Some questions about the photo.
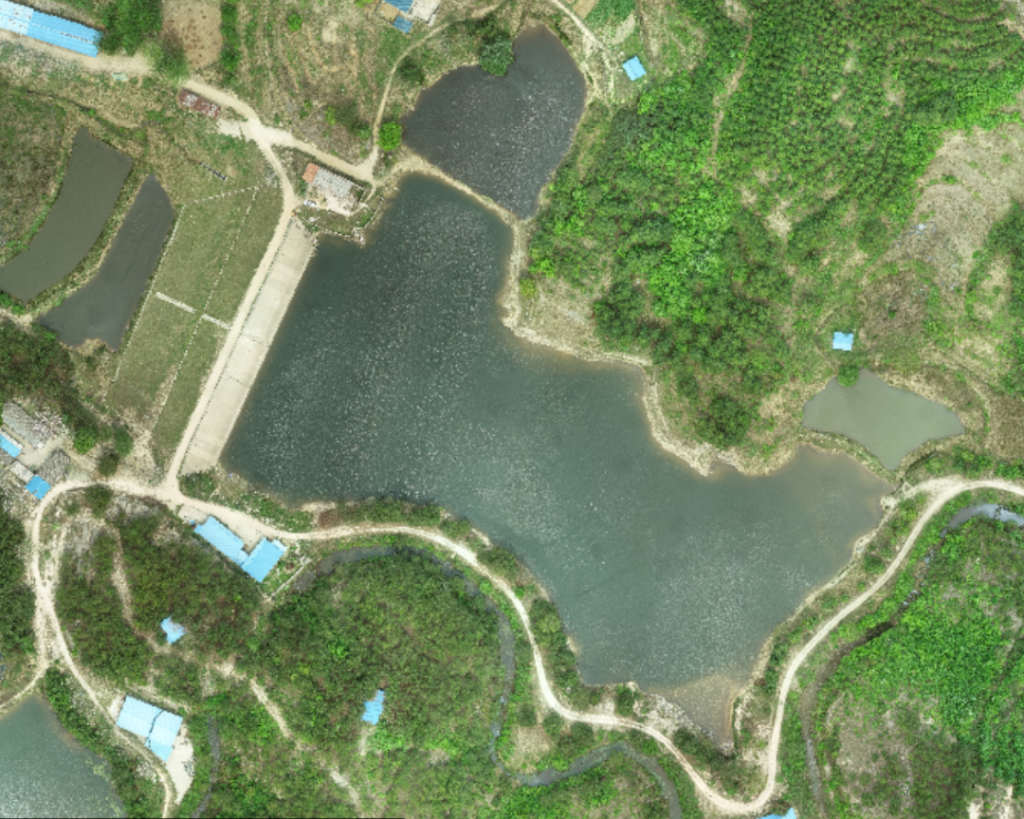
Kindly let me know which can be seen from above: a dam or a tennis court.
dam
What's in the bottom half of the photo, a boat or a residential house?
residential house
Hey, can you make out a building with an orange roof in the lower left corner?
No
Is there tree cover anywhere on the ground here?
Yes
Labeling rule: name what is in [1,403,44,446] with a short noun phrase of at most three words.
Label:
barn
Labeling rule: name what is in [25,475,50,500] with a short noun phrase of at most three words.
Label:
shed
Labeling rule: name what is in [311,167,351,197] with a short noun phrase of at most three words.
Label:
house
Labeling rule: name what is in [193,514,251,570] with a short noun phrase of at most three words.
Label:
house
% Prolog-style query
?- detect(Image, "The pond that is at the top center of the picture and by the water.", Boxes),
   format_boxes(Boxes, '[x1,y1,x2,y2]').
[402,25,586,219]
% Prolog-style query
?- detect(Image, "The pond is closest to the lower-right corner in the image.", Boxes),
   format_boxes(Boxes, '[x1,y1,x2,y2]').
[803,369,963,469]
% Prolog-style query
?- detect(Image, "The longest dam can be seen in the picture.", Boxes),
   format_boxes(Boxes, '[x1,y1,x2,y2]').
[108,182,317,478]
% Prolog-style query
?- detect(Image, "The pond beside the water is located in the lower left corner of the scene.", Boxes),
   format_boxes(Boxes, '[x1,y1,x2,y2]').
[0,694,132,819]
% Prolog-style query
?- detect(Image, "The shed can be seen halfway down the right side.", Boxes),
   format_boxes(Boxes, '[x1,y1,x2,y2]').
[835,331,855,350]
